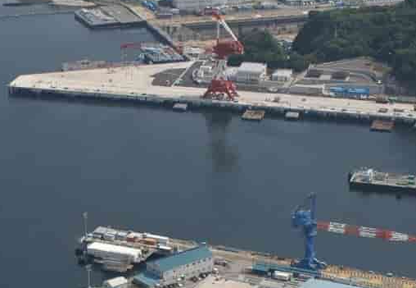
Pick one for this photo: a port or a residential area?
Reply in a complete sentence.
What you see here is a port.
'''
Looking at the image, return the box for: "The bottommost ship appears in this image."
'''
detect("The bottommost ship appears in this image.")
[91,244,145,274]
